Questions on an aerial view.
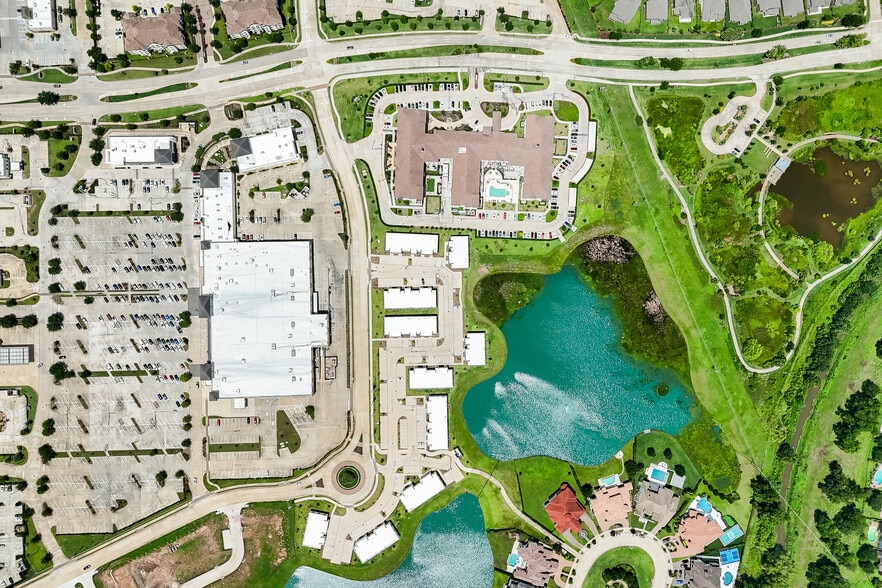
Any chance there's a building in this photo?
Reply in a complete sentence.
Yes, a building can be made out from above.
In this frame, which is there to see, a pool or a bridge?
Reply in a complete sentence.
The image shows a pool.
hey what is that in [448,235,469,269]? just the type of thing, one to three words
building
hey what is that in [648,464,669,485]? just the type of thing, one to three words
swimming pool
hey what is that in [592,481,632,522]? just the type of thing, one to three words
house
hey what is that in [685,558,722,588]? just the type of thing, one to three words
house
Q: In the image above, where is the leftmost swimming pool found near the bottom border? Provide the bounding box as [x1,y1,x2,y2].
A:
[507,548,521,568]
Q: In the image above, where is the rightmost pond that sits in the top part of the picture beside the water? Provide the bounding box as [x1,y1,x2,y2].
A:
[766,146,882,248]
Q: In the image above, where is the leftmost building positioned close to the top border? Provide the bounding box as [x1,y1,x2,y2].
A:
[123,3,189,56]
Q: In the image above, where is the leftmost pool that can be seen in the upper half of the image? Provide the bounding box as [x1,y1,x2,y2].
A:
[483,169,522,201]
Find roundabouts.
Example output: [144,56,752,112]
[331,461,365,495]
